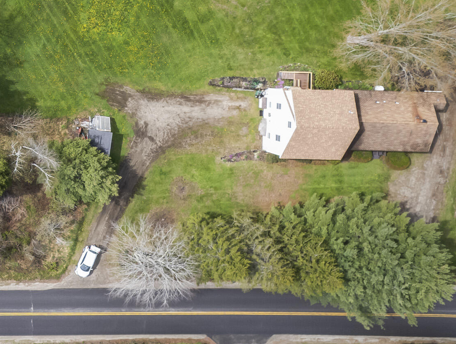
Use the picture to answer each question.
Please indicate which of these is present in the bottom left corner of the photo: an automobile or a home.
automobile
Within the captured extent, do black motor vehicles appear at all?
No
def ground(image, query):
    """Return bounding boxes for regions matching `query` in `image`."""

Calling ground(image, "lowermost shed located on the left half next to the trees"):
[83,128,114,158]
